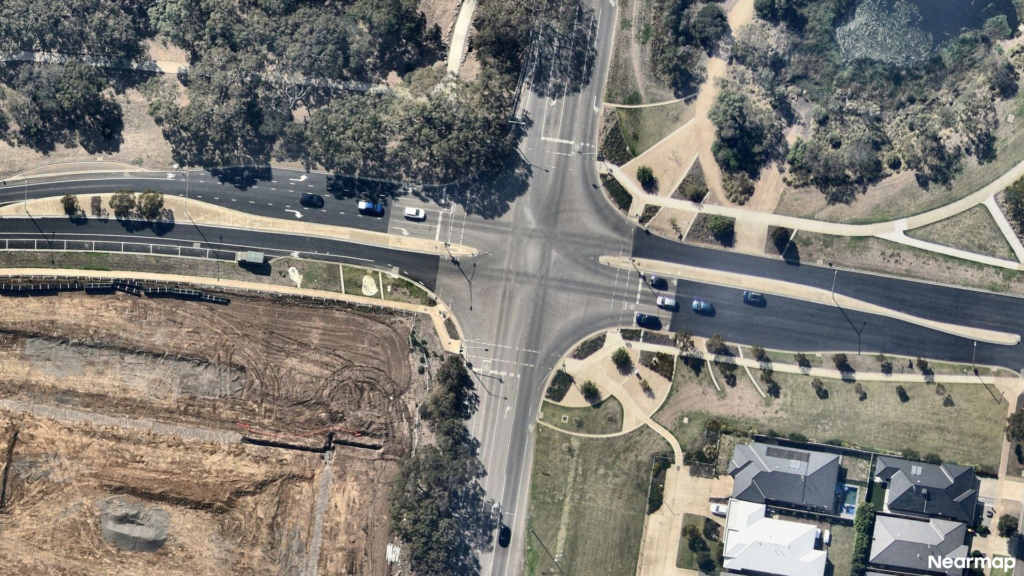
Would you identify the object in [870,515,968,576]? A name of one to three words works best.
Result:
house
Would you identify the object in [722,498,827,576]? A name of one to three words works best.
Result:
house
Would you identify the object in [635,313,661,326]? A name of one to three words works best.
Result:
vehicle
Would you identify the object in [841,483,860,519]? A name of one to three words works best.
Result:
swimming pool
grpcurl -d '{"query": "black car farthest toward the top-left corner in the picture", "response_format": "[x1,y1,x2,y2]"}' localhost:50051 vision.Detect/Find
[299,193,324,206]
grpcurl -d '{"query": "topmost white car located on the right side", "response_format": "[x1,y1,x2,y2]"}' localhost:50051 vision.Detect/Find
[656,295,679,308]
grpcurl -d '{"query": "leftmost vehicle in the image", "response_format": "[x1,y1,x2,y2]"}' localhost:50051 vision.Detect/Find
[236,251,265,265]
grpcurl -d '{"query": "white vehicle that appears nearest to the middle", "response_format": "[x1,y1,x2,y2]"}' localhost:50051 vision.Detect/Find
[403,207,427,219]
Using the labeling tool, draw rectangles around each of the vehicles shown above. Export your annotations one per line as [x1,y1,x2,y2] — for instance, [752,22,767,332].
[741,290,765,304]
[635,313,661,326]
[357,200,385,214]
[692,300,715,312]
[650,276,669,287]
[656,295,679,308]
[707,504,728,517]
[236,251,265,265]
[299,193,324,206]
[403,207,427,219]
[498,524,511,547]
